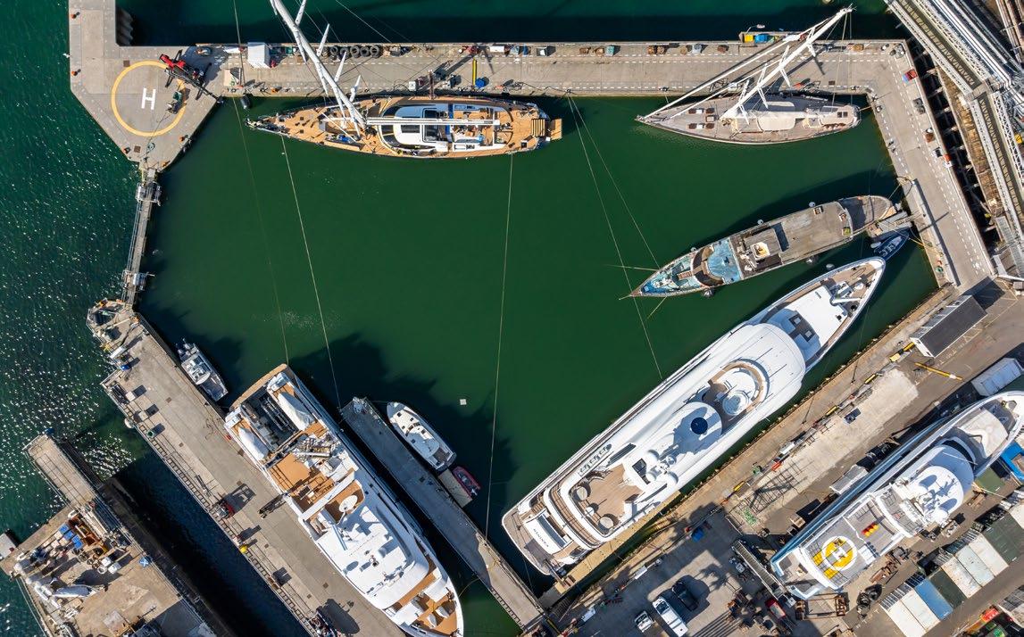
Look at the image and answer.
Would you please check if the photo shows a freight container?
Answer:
Yes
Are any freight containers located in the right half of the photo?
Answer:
Yes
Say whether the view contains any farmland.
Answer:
No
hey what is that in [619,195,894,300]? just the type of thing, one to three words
boat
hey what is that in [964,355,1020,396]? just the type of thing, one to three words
shipping container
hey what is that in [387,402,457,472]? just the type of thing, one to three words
boat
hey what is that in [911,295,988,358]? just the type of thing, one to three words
building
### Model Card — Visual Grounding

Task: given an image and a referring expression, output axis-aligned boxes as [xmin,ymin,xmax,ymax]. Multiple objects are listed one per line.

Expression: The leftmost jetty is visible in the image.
[0,432,233,637]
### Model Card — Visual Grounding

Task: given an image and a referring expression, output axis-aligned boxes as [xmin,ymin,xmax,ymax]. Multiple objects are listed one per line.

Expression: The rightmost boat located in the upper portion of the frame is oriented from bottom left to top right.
[874,229,909,260]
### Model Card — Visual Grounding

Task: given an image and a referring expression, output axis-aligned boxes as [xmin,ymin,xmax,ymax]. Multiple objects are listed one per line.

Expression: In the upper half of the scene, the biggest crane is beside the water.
[157,48,223,103]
